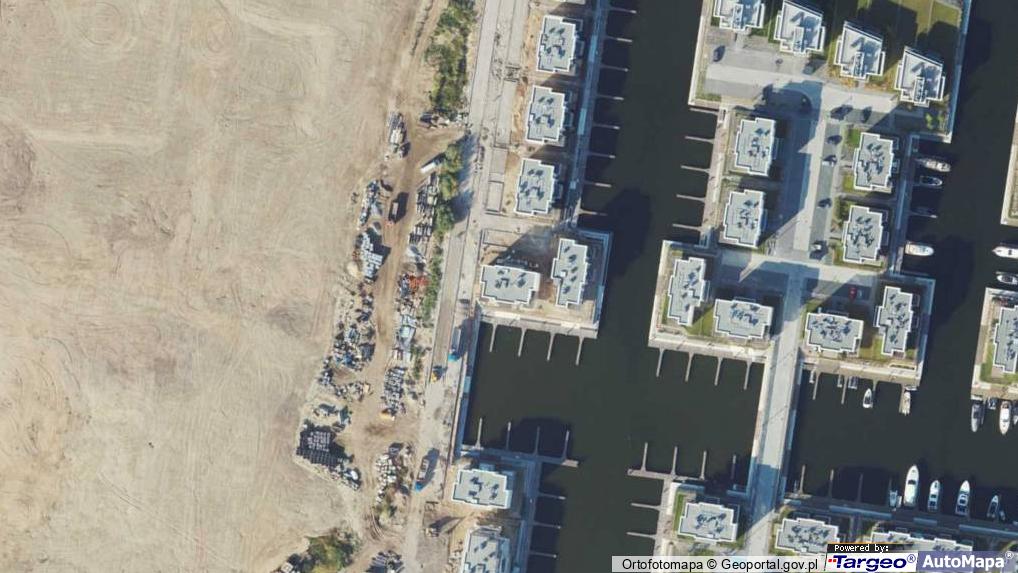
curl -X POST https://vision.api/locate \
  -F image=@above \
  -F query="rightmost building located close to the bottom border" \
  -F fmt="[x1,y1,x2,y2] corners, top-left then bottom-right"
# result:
[918,536,977,573]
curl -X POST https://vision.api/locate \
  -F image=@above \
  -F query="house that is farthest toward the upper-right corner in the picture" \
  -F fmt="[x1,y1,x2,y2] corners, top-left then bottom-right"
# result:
[893,47,947,104]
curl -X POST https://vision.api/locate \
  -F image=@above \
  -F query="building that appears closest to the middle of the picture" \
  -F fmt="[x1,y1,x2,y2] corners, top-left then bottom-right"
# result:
[480,262,540,304]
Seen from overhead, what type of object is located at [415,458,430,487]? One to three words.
vehicle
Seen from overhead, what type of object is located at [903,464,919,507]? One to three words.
boat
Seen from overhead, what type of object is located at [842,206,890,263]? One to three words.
house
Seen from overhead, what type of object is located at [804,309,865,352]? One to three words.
house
